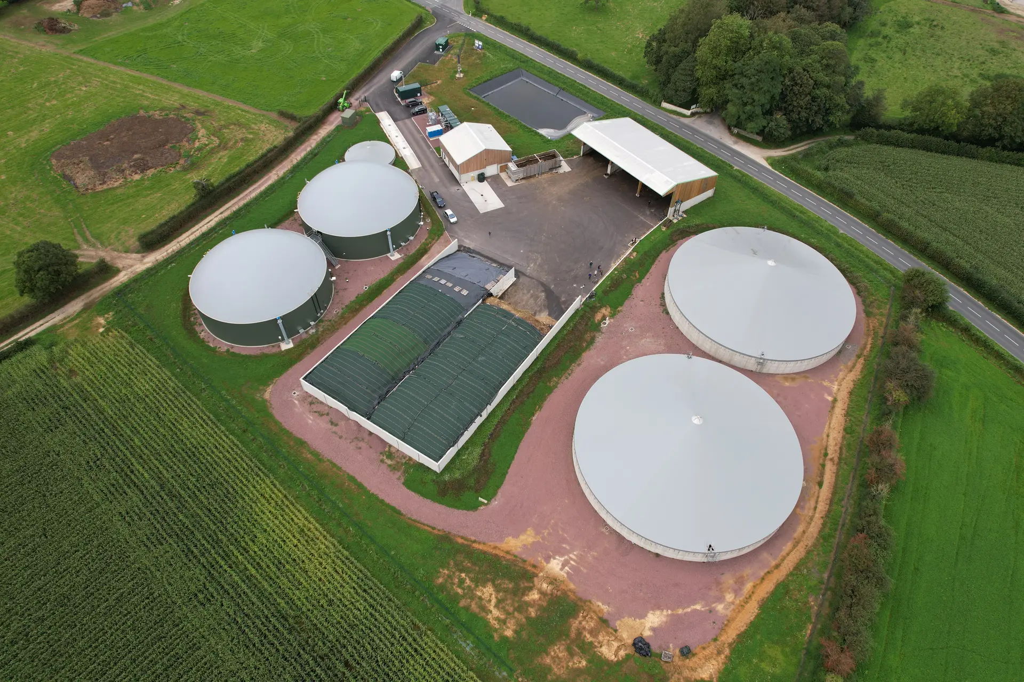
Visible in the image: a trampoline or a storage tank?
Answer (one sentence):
There is a storage tank in the scene.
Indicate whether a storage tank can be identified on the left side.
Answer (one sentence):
Yes, I can see a storage tank on the left side.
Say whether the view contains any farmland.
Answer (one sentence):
Yes, there's farmland in this view.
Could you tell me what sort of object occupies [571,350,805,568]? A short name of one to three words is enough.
storage tank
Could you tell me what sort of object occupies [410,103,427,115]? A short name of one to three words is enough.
vehicle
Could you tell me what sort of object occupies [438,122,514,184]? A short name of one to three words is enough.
building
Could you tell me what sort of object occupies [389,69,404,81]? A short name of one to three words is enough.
vehicle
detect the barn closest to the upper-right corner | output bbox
[570,115,722,217]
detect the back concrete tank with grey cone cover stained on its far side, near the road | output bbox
[664,223,857,375]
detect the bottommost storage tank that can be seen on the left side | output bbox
[185,223,337,352]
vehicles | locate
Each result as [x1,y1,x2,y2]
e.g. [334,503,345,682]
[389,69,404,81]
[429,189,447,207]
[410,103,427,115]
[406,97,425,107]
[334,85,354,111]
[444,209,458,224]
